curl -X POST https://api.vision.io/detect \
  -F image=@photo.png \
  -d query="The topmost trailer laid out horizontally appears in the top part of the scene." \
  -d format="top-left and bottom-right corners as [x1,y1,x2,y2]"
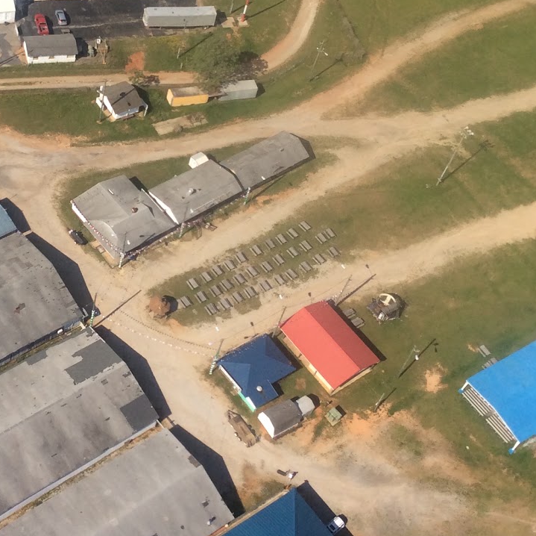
[143,11,217,39]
